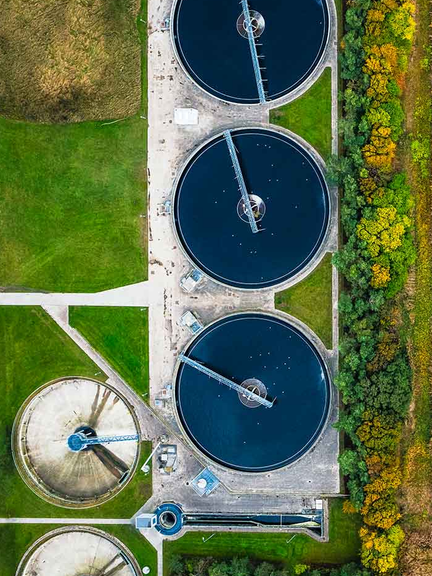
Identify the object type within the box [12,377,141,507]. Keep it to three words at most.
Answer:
storage tank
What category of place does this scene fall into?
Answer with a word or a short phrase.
industrial area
